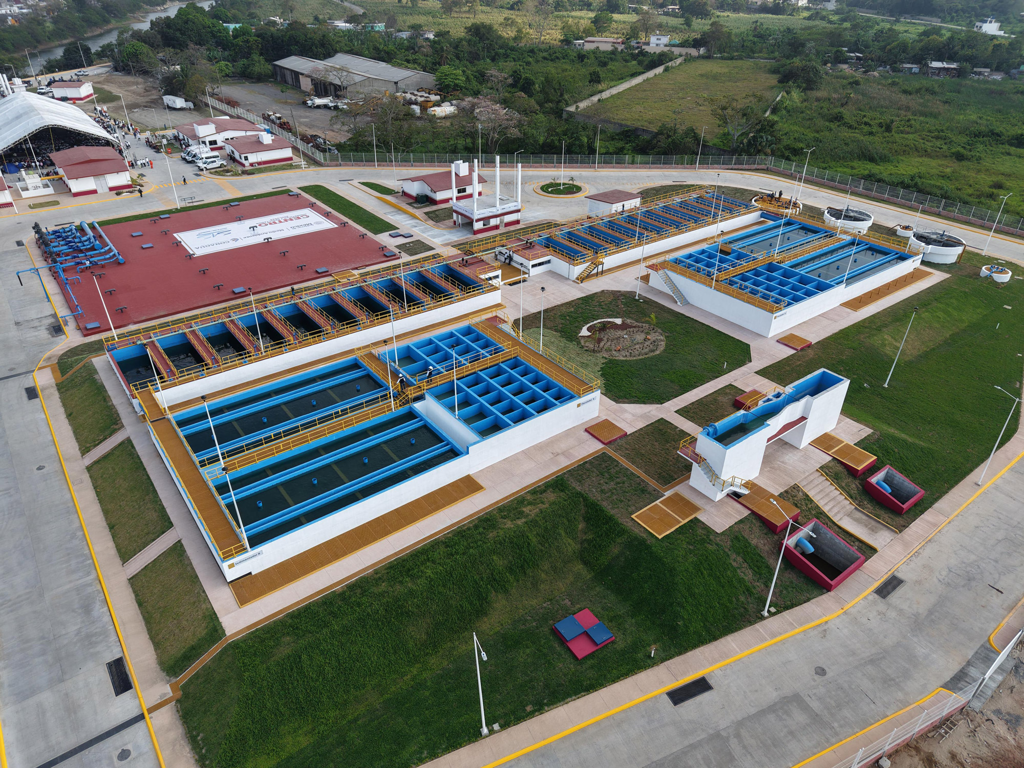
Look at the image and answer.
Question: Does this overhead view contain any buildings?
Yes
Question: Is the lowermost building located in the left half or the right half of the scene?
left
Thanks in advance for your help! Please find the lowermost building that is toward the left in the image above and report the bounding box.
[99,249,502,418]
